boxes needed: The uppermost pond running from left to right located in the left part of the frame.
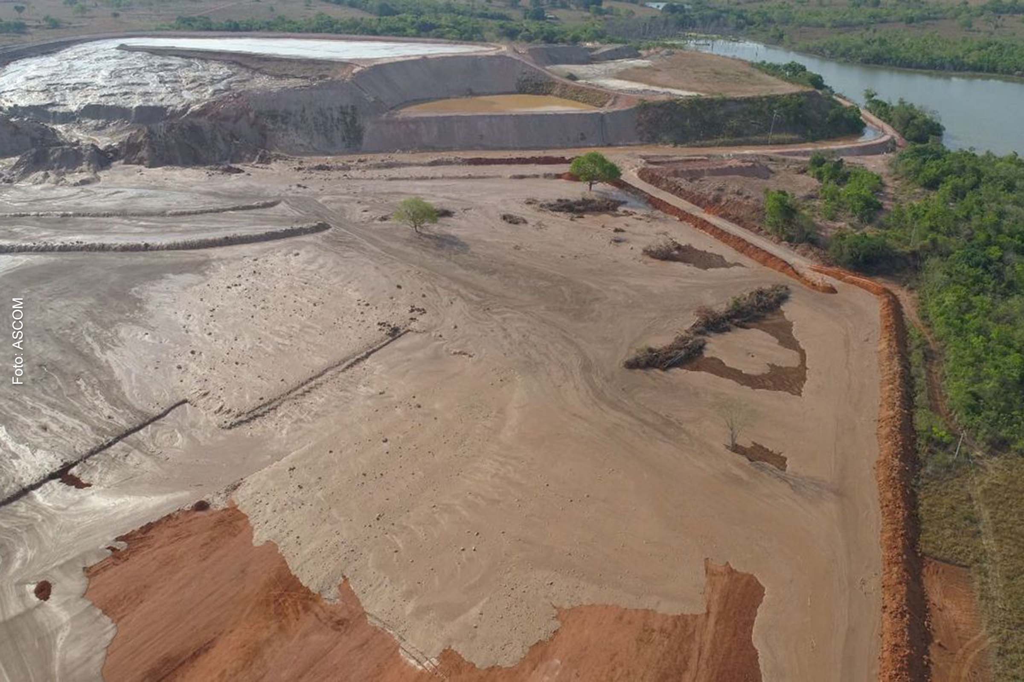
[114,37,479,58]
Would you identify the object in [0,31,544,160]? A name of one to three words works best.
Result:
dam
